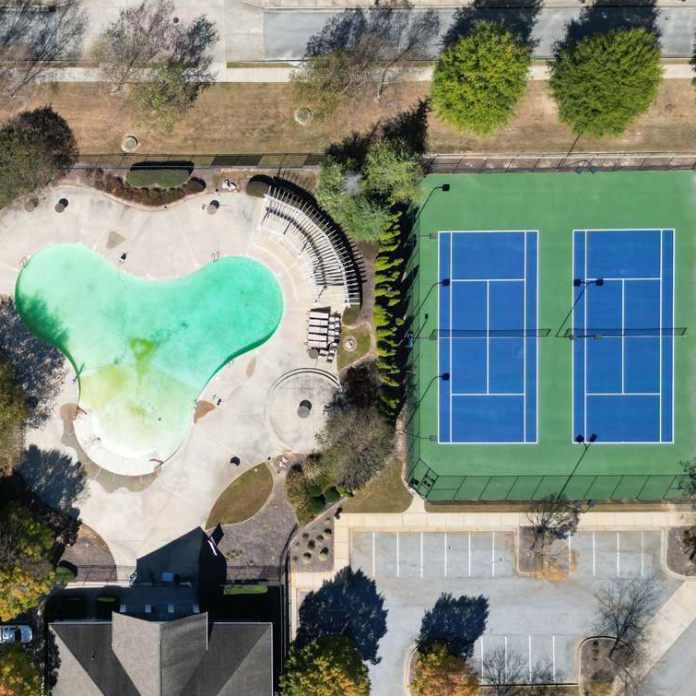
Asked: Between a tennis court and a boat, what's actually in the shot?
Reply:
tennis court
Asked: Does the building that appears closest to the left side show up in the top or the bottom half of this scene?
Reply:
bottom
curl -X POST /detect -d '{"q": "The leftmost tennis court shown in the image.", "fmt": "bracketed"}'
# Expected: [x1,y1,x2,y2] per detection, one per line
[410,173,556,500]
